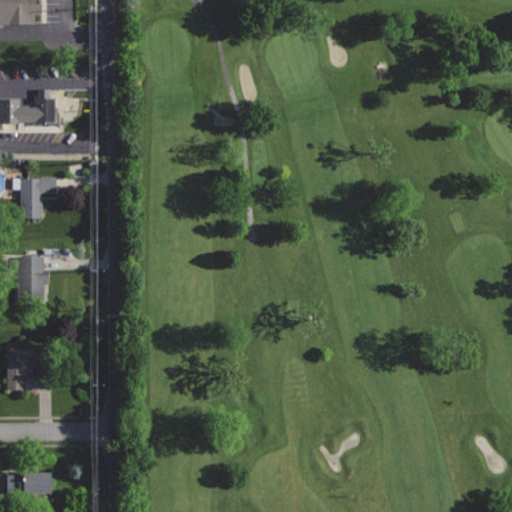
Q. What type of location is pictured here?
golf course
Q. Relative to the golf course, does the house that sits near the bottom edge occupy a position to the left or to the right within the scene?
to the left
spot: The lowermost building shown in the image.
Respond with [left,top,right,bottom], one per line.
[6,472,52,496]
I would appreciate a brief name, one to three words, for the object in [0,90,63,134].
building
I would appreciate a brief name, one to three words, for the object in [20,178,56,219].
house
